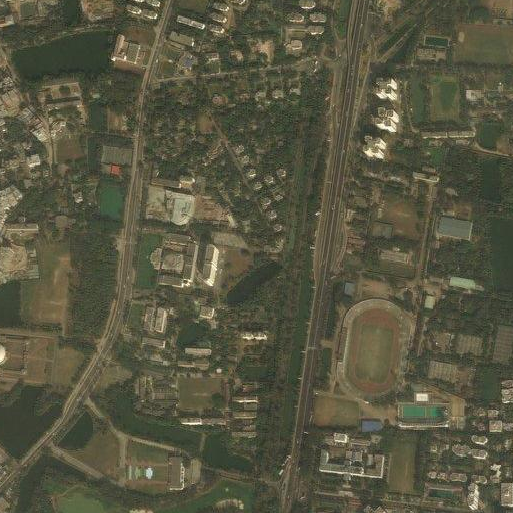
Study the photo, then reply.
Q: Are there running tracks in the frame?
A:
Yes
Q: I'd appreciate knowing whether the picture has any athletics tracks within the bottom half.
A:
Yes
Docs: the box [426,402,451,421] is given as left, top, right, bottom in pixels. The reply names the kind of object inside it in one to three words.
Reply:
swimming pool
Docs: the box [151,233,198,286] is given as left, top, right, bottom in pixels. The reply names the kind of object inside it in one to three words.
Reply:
building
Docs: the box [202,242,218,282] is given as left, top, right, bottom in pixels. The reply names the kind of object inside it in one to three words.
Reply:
building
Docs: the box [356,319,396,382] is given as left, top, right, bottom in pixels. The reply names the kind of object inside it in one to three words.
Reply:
sports field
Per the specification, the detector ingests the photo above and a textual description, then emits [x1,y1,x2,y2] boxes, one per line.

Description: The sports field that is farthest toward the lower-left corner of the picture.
[54,347,82,385]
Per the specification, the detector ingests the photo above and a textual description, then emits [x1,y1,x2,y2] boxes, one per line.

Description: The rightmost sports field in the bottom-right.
[388,441,415,493]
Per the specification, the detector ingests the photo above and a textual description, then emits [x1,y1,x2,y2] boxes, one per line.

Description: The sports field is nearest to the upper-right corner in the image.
[455,24,513,64]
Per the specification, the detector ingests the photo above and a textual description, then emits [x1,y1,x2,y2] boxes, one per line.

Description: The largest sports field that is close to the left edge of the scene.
[21,239,69,324]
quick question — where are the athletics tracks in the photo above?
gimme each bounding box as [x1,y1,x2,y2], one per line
[347,304,404,396]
